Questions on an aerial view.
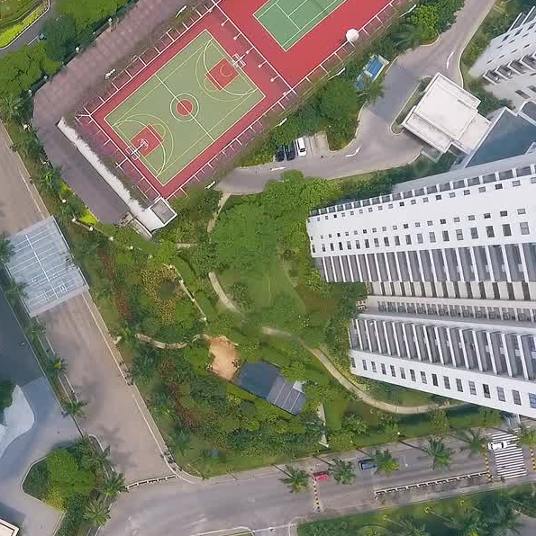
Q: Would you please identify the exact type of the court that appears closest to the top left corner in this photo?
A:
basketball court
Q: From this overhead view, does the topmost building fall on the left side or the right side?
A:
right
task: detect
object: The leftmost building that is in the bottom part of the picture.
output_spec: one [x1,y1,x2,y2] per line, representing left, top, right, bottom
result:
[235,360,306,414]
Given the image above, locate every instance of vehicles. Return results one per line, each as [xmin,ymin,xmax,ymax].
[284,141,294,159]
[313,472,328,481]
[274,144,285,162]
[295,137,306,155]
[488,440,507,450]
[358,459,379,471]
